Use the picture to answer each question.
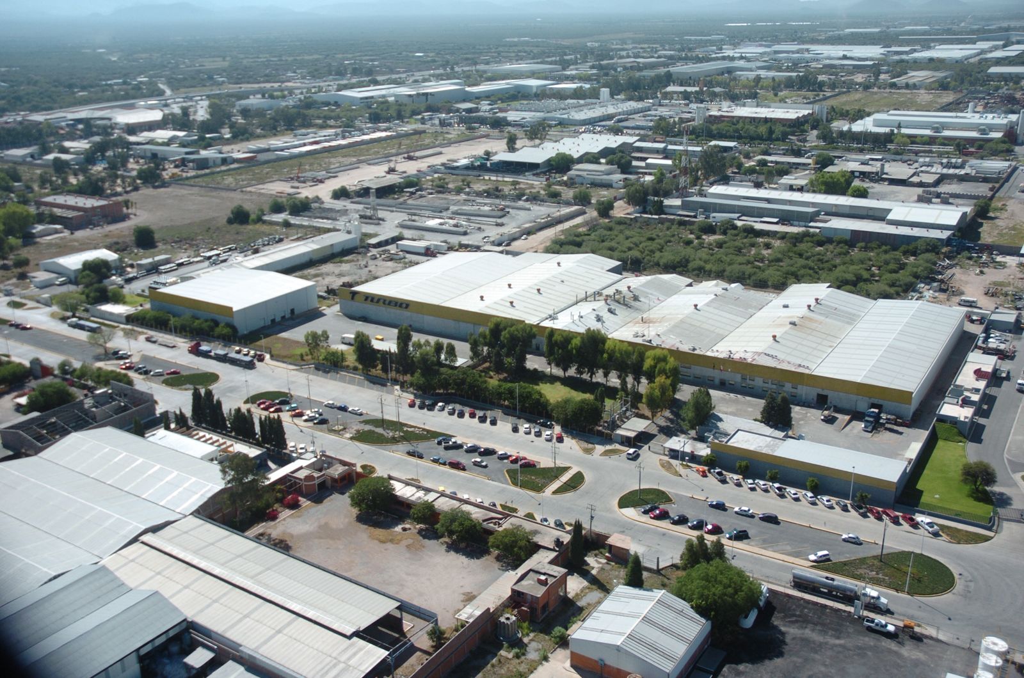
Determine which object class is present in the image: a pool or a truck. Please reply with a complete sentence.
This aerial view contains a truck.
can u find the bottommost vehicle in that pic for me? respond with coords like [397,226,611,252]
[864,619,895,635]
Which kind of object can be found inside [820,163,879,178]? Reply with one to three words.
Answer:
shed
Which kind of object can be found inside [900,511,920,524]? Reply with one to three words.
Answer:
vehicle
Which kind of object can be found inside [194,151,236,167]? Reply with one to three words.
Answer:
building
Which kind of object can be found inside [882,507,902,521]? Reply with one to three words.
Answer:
vehicle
